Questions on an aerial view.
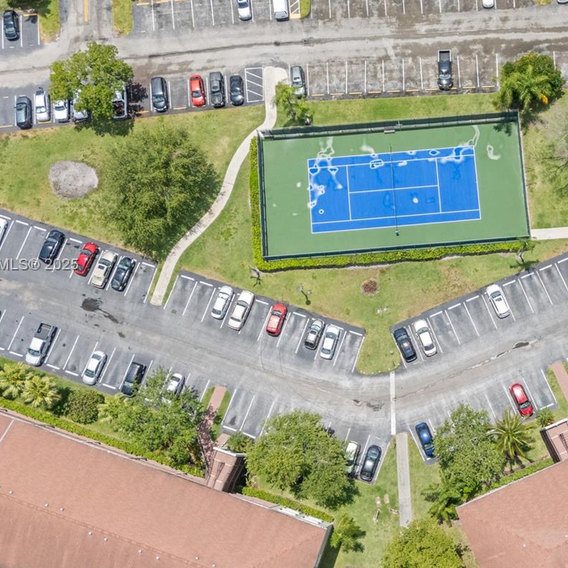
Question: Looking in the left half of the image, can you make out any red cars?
Yes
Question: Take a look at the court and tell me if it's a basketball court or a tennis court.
tennis court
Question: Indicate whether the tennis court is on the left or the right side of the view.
right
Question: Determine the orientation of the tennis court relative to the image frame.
horizontally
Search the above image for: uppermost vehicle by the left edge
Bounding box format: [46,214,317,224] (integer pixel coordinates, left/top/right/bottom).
[2,9,20,41]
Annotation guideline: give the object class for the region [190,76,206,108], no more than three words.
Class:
car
